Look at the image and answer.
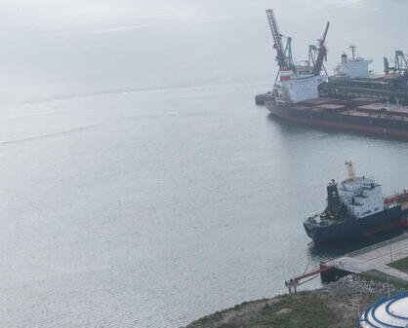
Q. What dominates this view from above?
water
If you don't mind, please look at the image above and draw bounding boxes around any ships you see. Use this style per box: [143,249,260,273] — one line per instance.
[295,137,408,239]
[319,43,408,102]
[256,63,408,138]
